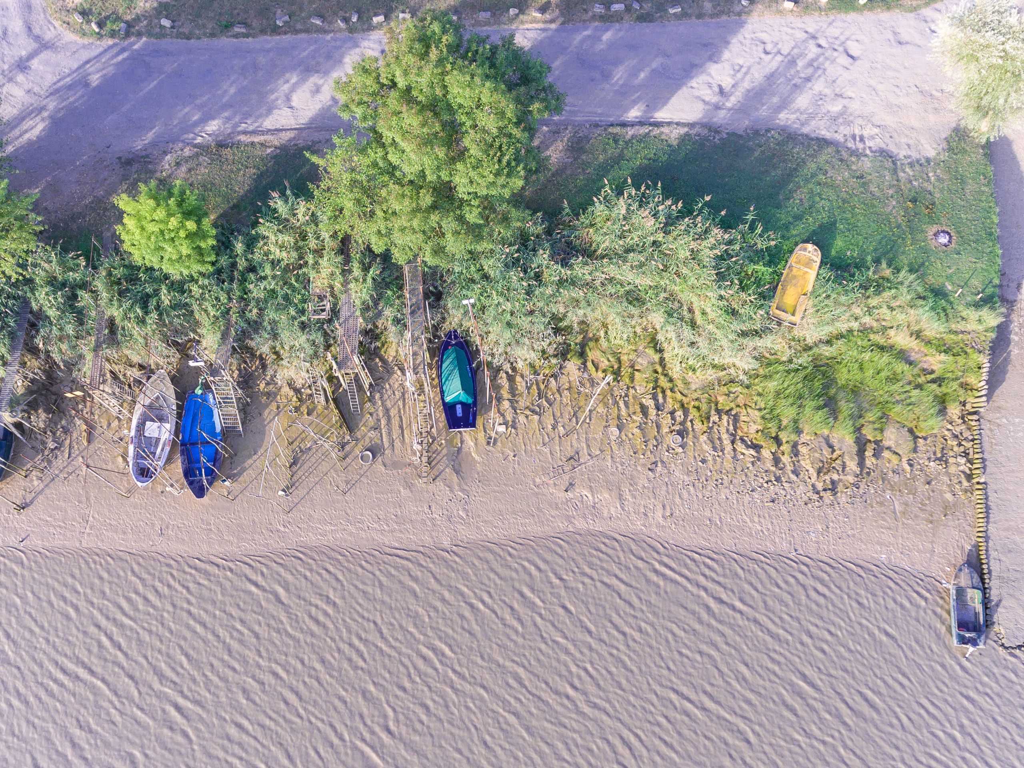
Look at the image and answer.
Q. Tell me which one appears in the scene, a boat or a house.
boat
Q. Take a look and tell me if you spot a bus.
No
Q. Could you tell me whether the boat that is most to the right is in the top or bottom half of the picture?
bottom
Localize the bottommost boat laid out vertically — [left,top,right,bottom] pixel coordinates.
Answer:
[947,564,988,664]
